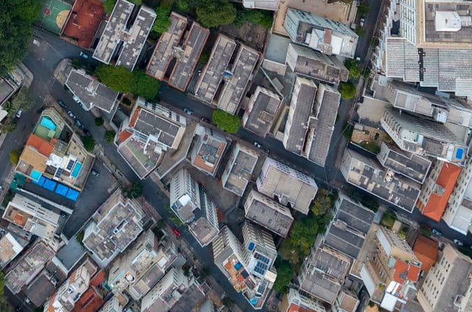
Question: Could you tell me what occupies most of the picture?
buildings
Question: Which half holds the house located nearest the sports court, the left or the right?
left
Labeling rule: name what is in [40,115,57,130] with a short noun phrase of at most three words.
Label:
swimming pool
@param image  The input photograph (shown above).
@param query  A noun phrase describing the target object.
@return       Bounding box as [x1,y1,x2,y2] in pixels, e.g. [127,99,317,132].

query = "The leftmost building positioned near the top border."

[60,0,104,47]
